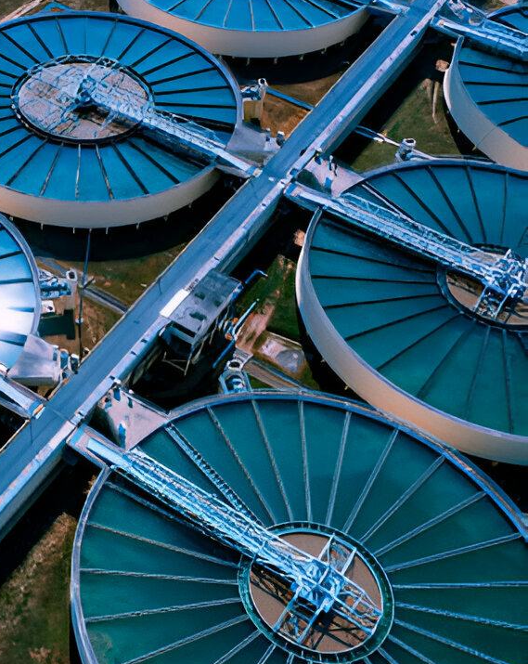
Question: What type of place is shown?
industrial area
